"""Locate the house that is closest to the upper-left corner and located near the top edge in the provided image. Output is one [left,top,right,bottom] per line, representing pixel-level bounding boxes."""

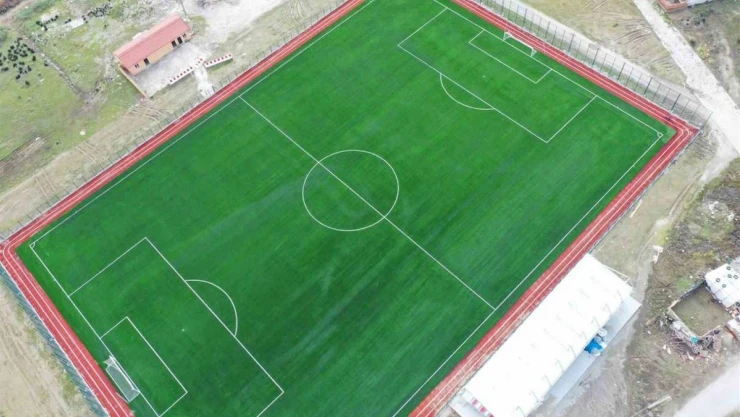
[113,15,192,74]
